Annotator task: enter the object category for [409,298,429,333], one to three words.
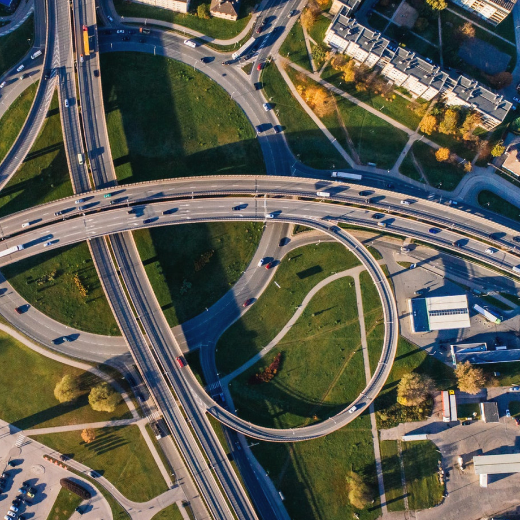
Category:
building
